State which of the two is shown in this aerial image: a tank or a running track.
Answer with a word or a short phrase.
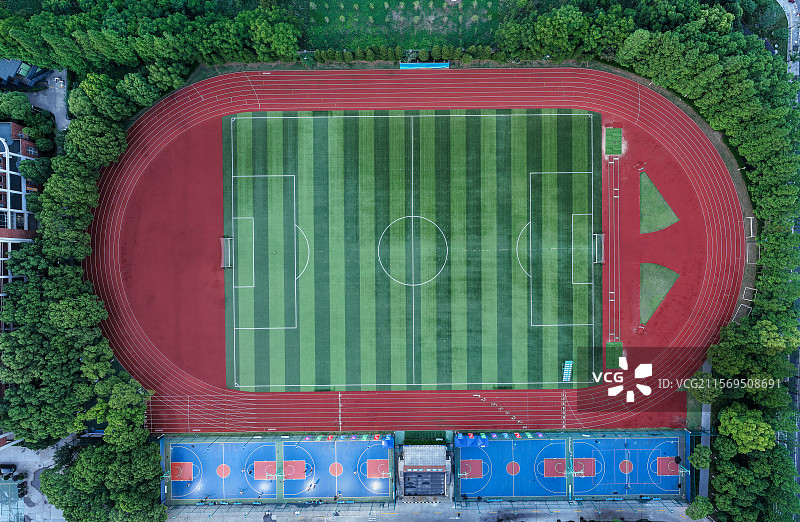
running track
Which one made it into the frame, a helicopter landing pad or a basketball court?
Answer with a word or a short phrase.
basketball court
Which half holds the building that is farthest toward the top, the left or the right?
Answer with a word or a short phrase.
left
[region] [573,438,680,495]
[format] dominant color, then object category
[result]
blue basketball court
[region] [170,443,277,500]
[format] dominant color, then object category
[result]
blue basketball court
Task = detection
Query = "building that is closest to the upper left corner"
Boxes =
[0,57,62,93]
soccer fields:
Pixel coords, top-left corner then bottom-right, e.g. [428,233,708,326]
[221,109,605,392]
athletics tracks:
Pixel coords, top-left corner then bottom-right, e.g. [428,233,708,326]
[80,68,745,434]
